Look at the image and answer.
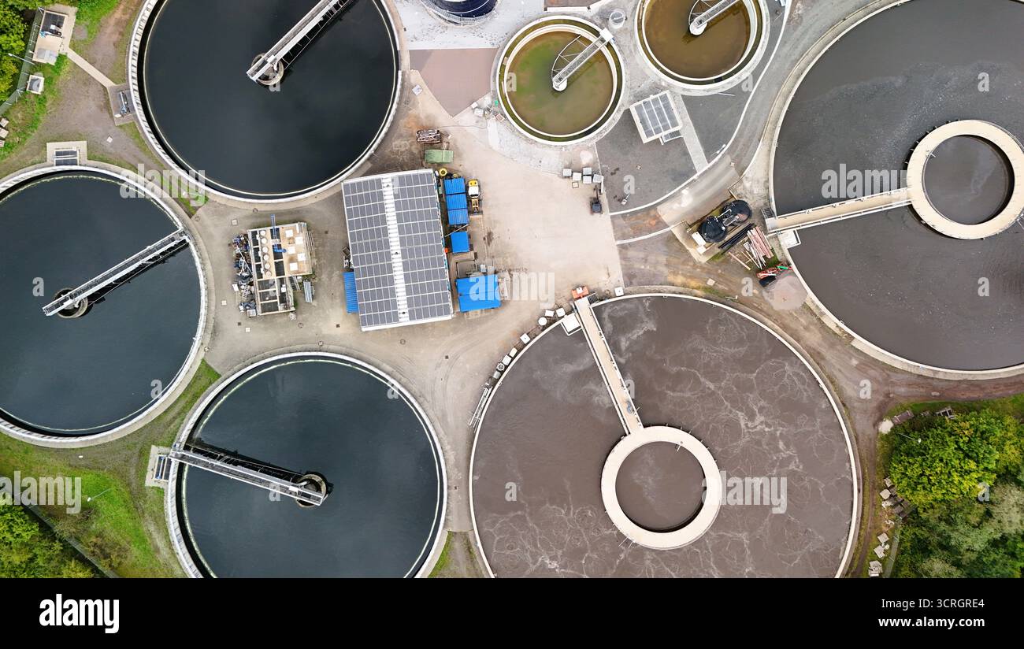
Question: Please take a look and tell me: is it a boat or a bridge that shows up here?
bridge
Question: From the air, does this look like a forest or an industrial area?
industrial area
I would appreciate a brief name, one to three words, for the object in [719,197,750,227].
storage tank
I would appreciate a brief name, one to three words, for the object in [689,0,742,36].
bridge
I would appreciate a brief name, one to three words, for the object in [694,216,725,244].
storage tank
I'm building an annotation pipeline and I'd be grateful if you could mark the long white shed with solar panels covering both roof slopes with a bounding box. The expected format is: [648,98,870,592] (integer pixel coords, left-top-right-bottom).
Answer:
[341,169,453,331]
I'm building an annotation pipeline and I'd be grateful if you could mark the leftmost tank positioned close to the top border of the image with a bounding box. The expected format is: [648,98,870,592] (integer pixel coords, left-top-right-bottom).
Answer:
[129,0,403,204]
